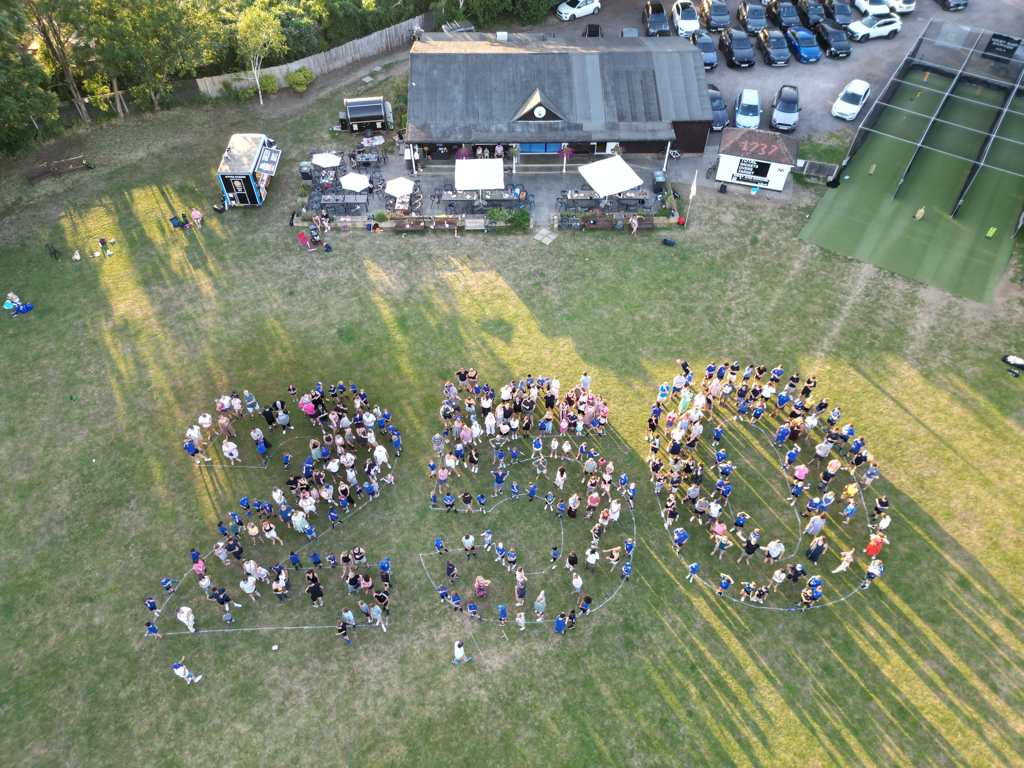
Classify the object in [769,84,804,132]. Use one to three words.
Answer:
car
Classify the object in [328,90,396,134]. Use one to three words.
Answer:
trailer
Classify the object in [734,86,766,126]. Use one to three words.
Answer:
car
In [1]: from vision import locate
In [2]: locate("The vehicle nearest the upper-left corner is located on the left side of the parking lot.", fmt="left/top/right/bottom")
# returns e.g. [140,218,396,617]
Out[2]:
[212,125,286,202]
